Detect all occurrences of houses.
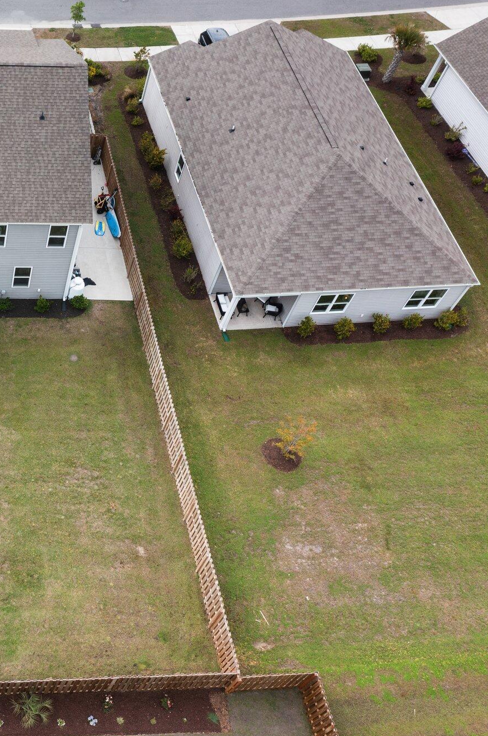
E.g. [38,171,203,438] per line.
[421,16,488,167]
[0,29,97,301]
[140,22,480,330]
